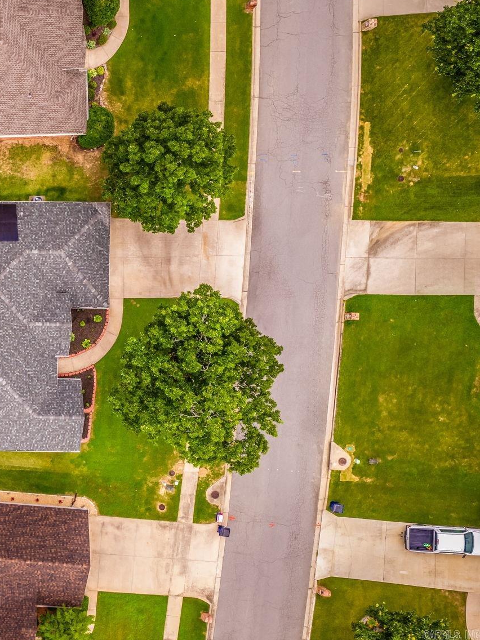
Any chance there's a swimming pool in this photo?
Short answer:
No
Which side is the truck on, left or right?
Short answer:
right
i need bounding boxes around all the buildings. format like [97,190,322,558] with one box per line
[0,497,90,640]
[0,201,110,452]
[0,0,91,142]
